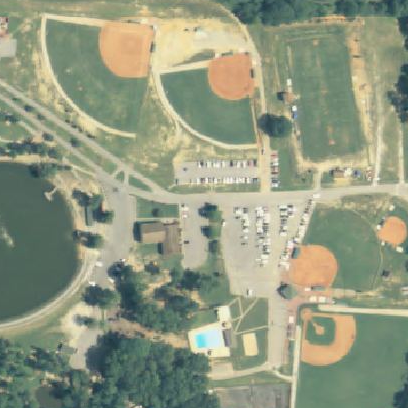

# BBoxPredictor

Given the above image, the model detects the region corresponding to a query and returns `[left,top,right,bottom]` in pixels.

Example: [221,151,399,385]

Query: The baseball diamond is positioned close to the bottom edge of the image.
[292,304,408,408]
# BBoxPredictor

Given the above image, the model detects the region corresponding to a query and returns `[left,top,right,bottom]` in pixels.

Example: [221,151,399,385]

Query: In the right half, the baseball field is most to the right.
[375,205,408,251]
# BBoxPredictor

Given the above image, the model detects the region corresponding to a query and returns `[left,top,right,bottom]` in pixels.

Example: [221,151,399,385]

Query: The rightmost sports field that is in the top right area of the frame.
[286,32,364,163]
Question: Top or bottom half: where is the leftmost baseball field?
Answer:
top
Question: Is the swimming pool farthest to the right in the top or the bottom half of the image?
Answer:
bottom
